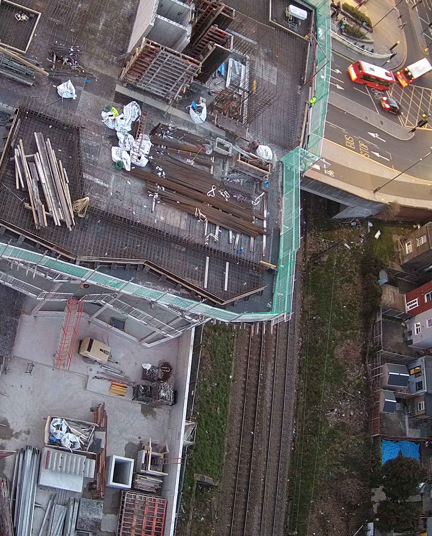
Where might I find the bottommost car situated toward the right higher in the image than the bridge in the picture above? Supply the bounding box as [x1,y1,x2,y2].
[384,101,406,117]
